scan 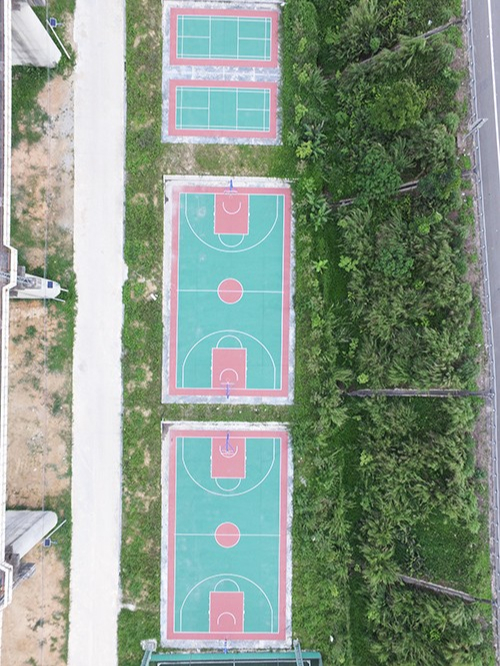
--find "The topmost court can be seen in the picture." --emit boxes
[170,8,278,67]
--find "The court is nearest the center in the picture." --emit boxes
[162,178,294,403]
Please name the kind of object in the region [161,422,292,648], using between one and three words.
basketball court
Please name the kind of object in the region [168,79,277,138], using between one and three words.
sports court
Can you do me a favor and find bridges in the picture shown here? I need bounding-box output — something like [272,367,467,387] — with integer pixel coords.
[0,0,62,666]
